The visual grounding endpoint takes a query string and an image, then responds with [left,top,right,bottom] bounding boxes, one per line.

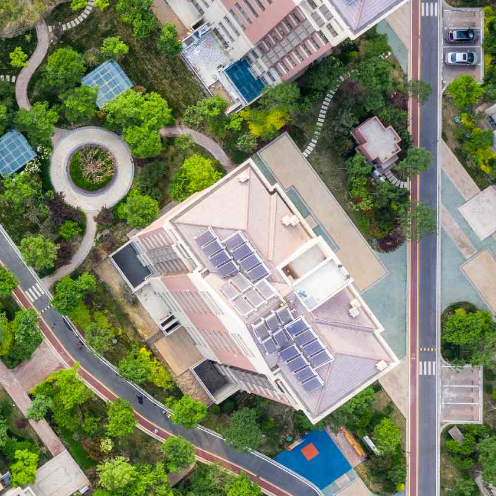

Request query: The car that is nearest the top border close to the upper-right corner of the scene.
[448,27,480,44]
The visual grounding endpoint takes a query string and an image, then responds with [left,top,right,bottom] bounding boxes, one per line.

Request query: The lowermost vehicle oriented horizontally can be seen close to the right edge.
[446,50,482,66]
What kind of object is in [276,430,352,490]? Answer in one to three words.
sports court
